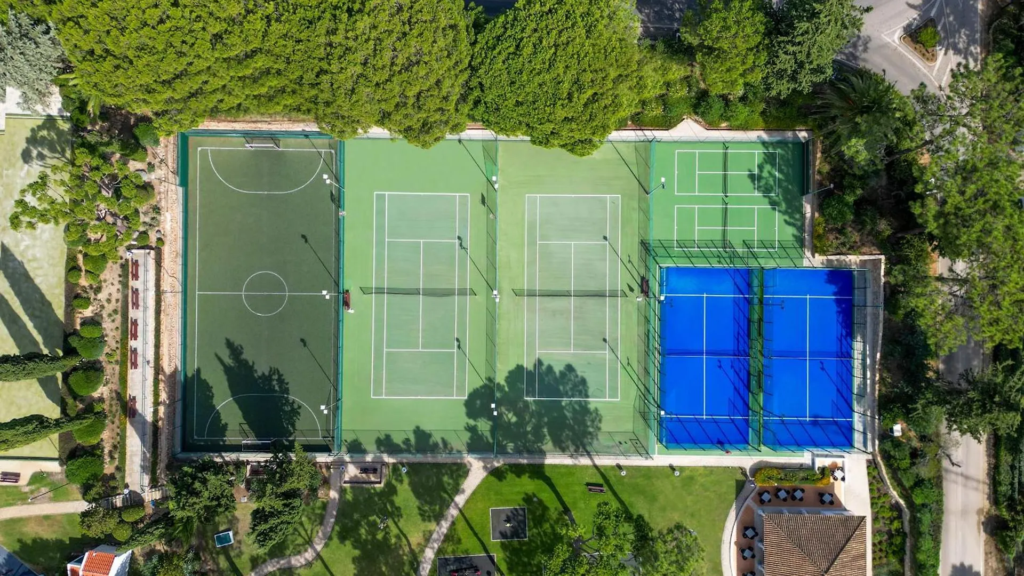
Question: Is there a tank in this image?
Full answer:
No, the photo shows no tank.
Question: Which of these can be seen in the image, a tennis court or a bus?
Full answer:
I can see a tennis court in this picture.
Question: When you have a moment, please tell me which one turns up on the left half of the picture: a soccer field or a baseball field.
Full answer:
The one visible on the left half of the picture is a soccer field.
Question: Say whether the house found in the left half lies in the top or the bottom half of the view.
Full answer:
The bottom half of the photo is where the house found in the left half is.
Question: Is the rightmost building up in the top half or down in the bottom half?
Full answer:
The bottom half of the photo is where the rightmost building is.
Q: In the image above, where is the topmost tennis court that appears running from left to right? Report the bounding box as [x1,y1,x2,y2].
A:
[652,142,805,201]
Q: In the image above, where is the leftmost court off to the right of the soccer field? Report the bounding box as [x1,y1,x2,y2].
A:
[340,140,497,455]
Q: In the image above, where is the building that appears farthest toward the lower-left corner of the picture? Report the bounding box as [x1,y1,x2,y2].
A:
[70,543,129,576]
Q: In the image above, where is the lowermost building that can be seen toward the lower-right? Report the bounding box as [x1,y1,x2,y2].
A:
[751,504,867,576]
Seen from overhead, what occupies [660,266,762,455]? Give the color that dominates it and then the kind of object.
blue sports court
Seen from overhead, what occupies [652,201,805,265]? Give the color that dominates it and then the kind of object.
green tennis court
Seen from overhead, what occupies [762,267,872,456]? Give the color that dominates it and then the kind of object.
blue sports court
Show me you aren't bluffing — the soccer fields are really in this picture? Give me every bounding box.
[183,137,339,453]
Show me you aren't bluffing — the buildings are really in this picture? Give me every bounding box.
[70,543,129,576]
[751,504,867,576]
